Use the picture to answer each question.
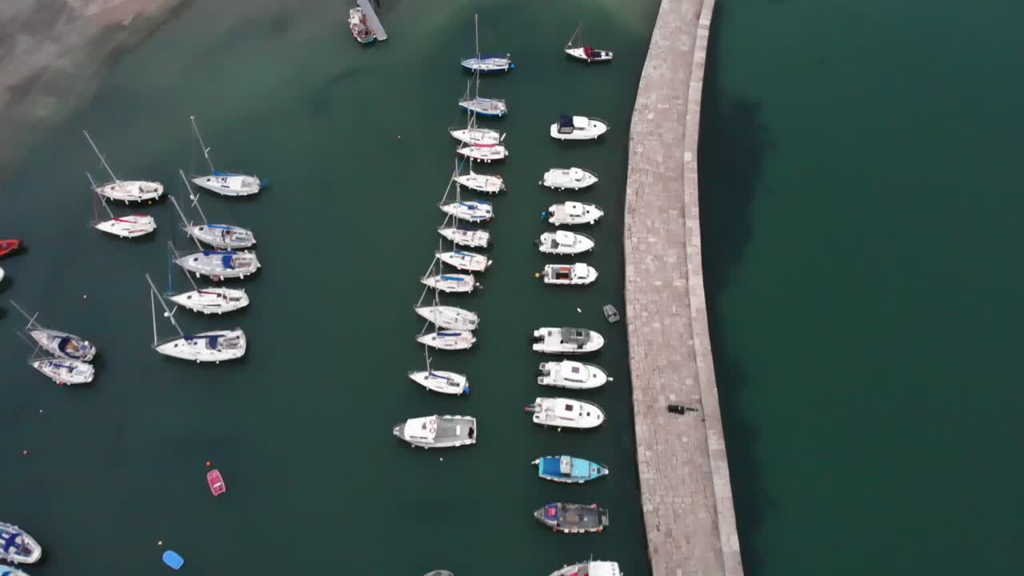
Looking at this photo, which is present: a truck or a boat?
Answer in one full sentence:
It is a boat that can be seen here.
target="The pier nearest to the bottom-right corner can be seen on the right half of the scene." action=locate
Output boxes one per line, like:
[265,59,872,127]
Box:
[617,0,744,576]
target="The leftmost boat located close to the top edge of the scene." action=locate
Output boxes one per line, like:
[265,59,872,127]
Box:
[349,4,373,45]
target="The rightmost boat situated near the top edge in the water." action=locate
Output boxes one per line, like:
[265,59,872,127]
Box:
[565,21,613,63]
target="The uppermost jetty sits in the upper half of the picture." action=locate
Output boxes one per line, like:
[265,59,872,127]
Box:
[357,0,389,42]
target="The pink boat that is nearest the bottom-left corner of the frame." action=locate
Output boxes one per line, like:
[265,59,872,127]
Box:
[207,468,228,498]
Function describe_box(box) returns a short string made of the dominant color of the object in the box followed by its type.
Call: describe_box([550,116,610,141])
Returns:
white boat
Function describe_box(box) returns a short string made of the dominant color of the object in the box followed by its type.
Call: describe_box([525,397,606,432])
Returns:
white boat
